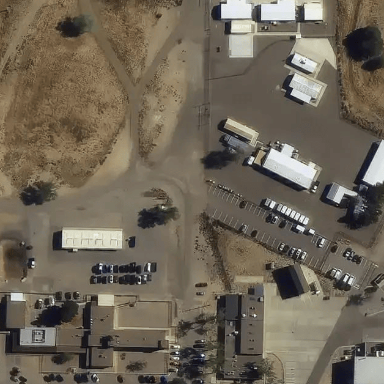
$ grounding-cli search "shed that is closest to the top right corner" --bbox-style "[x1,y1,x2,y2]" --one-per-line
[304,2,323,21]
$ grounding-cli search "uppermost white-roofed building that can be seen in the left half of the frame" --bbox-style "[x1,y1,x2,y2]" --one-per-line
[61,228,123,251]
